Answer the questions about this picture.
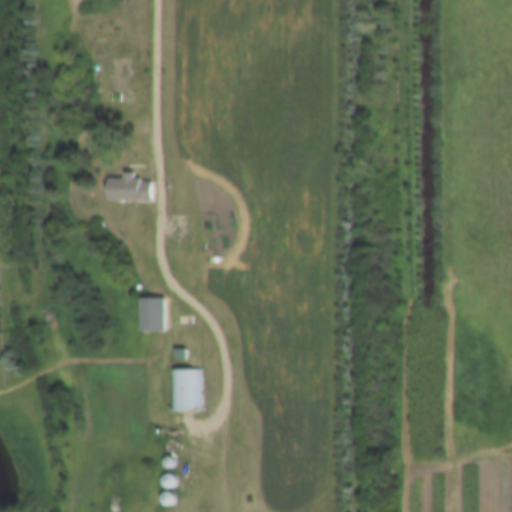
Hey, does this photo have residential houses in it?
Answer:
Yes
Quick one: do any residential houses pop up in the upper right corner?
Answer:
No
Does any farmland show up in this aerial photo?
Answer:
Yes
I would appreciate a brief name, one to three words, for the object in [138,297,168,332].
shed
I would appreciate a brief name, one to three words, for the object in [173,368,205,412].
barn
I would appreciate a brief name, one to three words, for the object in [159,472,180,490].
silo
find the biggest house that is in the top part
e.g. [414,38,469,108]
[104,172,156,204]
